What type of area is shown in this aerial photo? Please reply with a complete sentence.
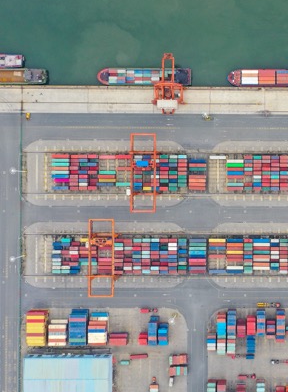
It's a port.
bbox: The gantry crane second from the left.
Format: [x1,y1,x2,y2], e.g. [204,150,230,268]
[126,134,164,213]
